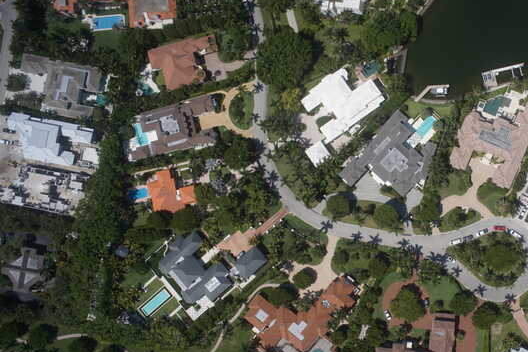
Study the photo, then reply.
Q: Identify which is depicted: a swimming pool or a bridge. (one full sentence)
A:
There is a swimming pool in the scene.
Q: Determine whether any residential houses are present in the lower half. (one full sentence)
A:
Yes, a residential house appears in the lower half.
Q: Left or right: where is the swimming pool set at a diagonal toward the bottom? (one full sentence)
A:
It is on the left.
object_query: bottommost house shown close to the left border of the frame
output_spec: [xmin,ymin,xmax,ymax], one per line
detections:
[1,238,57,301]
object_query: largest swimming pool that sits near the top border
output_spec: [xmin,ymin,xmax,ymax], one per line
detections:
[92,13,125,31]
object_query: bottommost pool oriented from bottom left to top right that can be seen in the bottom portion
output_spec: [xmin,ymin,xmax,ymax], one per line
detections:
[141,289,172,316]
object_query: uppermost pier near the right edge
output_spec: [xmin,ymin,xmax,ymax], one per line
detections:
[481,62,526,90]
